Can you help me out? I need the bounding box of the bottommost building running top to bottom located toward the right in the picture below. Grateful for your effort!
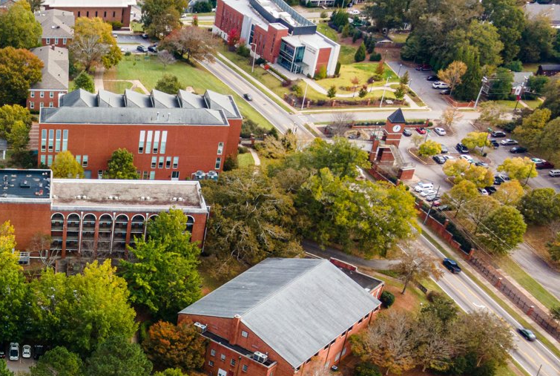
[381,104,409,166]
